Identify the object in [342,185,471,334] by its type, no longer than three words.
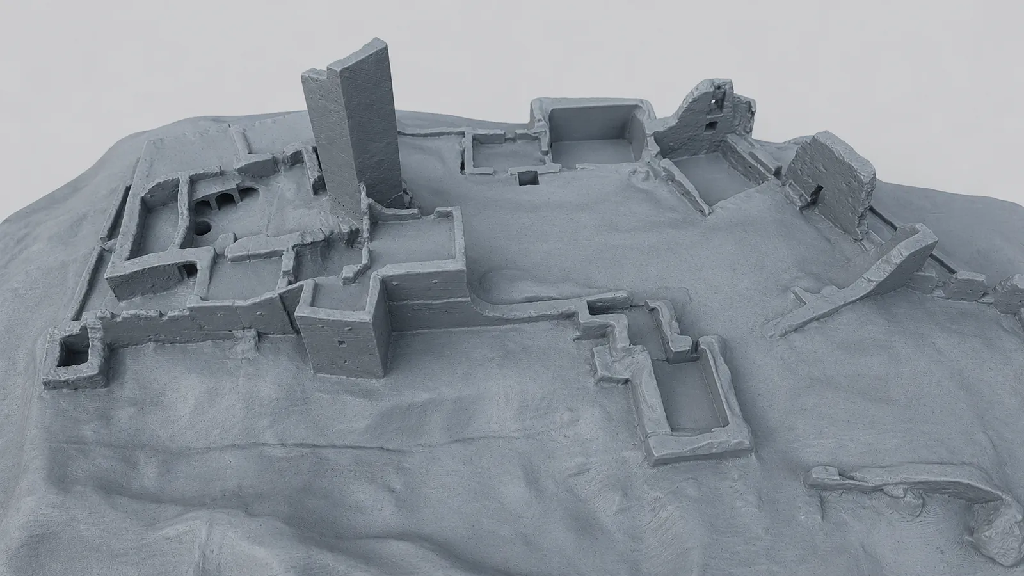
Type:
building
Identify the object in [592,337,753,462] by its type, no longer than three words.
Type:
building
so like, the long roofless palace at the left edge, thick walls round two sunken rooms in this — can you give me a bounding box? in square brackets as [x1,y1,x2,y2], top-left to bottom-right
[106,112,337,302]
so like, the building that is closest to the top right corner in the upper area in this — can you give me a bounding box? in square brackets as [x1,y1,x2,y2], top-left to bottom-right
[647,78,782,215]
